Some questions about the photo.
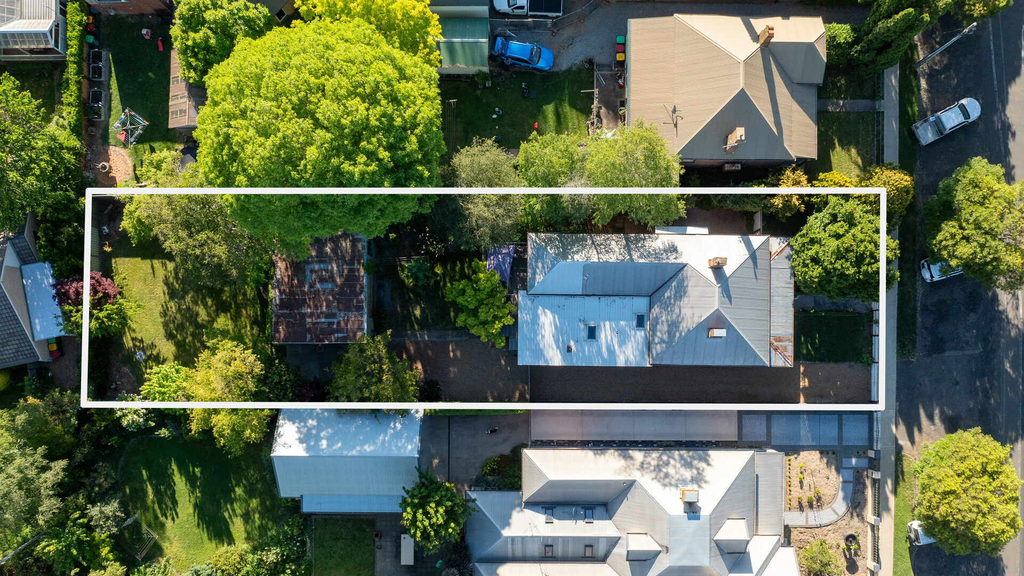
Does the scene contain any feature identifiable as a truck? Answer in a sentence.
Yes, the photo shows a truck.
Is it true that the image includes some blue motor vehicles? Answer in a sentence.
Yes, a blue motor vehicle can be made out from above.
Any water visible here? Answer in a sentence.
No, no water is visible.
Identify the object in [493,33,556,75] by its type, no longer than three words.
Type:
car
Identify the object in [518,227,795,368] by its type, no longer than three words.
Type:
house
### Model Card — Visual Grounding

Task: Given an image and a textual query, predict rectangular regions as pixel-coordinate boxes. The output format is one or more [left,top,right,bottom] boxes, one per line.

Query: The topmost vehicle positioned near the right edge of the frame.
[908,97,984,150]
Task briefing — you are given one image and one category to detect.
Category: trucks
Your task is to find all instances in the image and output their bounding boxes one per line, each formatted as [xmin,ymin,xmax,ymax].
[908,97,984,150]
[492,0,566,21]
